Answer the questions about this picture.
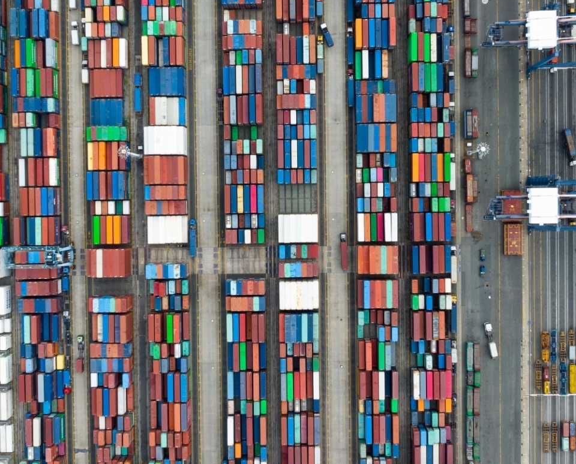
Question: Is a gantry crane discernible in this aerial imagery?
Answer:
Yes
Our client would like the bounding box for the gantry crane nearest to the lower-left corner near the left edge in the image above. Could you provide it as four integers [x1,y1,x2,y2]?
[3,236,74,271]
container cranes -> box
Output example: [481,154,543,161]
[3,236,74,271]
[470,1,576,85]
[472,166,576,240]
